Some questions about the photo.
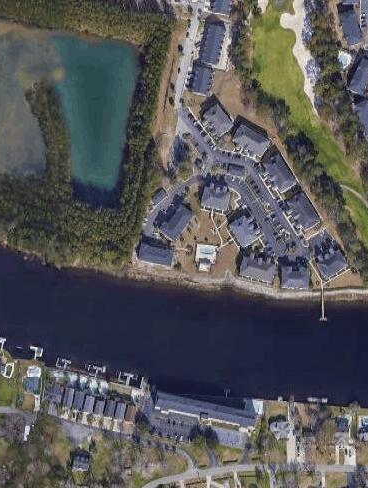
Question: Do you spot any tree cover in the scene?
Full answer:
Yes, tree cover shows up in the scene.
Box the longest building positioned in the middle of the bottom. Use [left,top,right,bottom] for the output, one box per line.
[154,391,258,425]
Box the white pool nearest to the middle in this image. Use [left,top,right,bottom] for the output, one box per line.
[196,243,218,263]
